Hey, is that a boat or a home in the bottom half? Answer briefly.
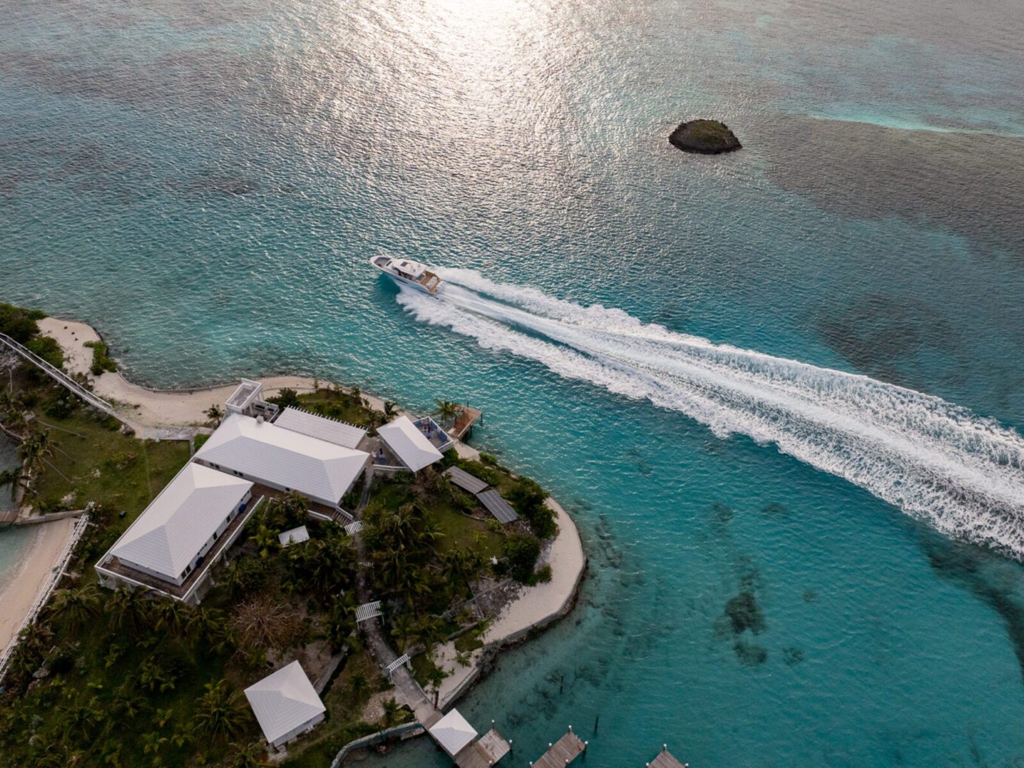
home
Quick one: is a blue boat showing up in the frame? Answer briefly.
No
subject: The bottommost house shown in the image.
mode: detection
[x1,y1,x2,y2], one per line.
[244,659,325,766]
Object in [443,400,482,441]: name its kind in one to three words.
pier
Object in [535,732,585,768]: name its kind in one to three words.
pier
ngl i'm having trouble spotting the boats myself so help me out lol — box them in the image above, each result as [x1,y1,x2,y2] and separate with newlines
[371,255,443,296]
